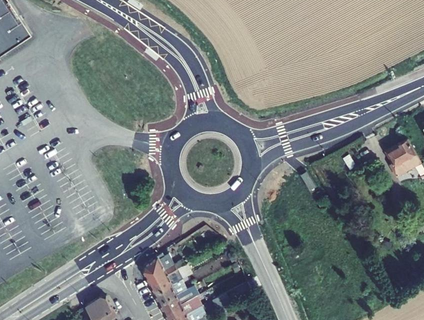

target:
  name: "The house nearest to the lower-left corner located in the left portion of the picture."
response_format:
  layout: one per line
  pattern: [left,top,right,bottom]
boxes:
[83,298,112,320]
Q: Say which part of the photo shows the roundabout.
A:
center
